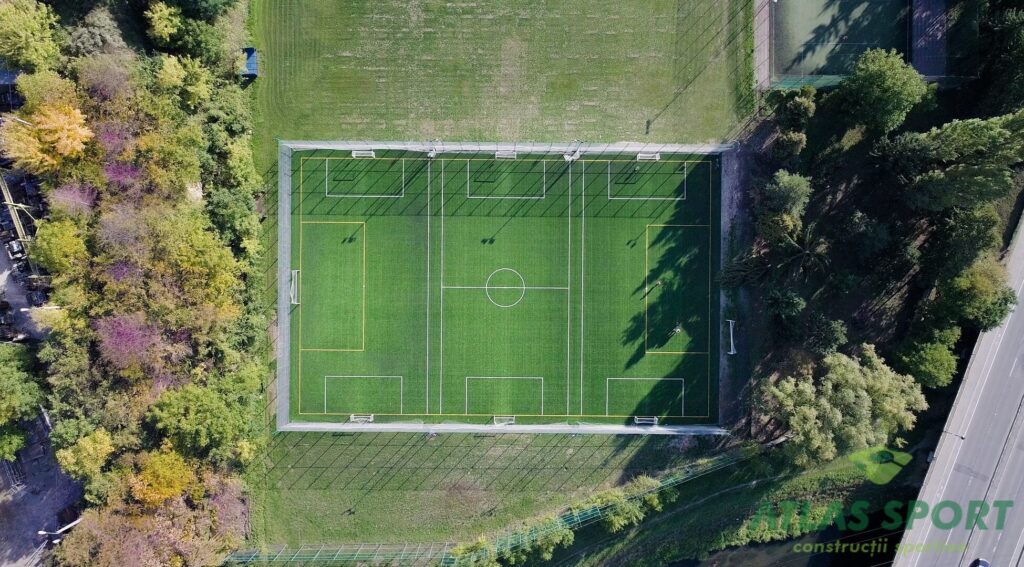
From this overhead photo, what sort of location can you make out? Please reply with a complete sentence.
What you see here is a sports ground.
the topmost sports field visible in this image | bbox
[256,0,744,139]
